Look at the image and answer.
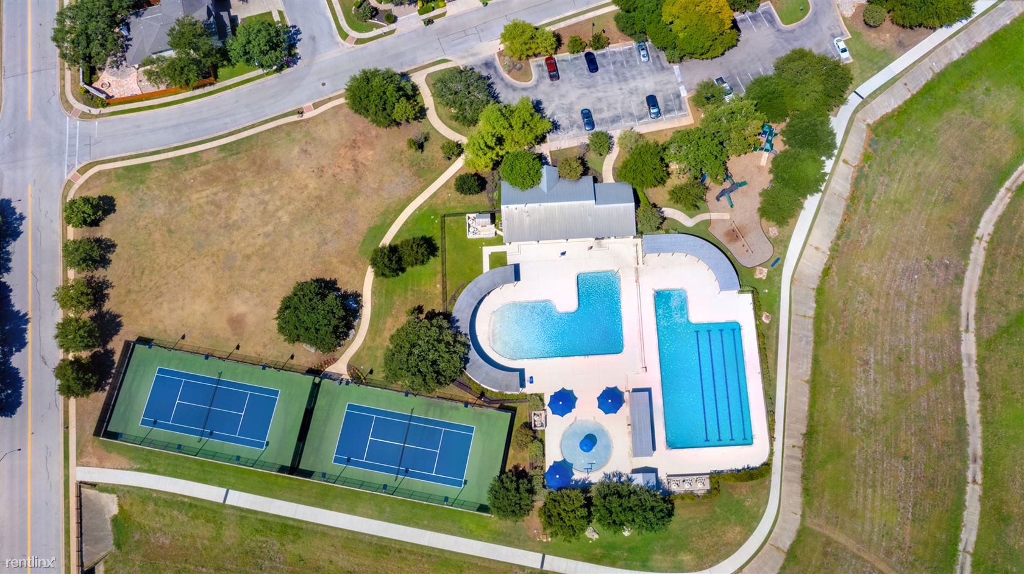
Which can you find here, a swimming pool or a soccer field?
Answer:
swimming pool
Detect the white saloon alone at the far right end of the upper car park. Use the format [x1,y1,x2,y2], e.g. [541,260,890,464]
[834,37,850,59]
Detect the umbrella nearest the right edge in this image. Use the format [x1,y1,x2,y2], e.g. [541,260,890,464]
[596,387,623,415]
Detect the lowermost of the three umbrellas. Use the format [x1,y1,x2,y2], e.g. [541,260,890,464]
[542,461,572,490]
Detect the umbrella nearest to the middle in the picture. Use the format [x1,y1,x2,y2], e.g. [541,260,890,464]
[546,388,576,418]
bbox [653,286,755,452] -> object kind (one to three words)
swimming pool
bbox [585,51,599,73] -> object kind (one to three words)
car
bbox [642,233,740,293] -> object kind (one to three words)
building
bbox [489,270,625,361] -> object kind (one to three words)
swimming pool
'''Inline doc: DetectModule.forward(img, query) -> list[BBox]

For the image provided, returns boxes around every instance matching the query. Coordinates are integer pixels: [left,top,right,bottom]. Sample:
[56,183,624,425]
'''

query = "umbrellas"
[542,461,572,490]
[546,388,576,418]
[596,387,623,415]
